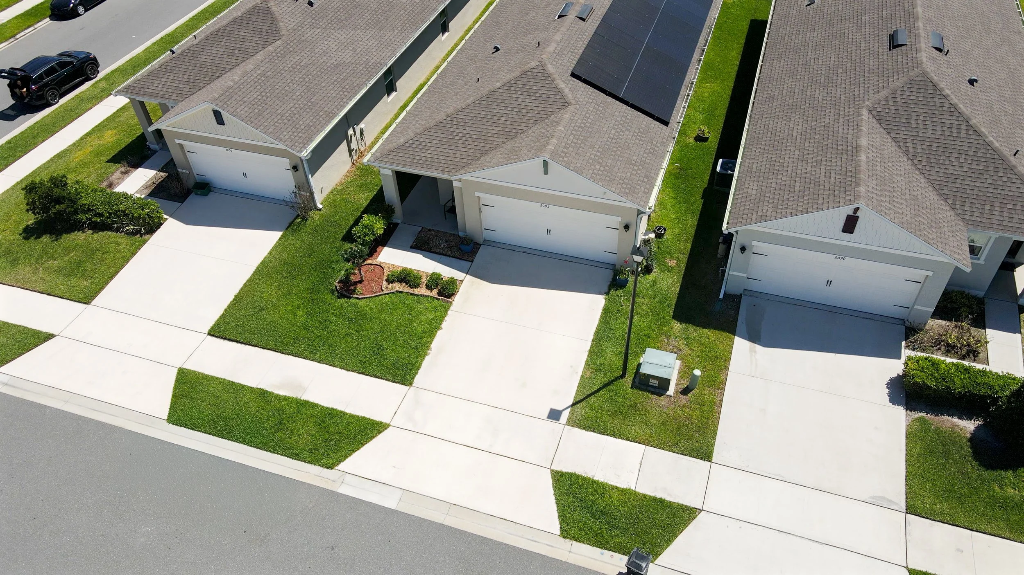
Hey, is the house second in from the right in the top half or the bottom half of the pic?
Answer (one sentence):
The house second in from the right is in the top half of the image.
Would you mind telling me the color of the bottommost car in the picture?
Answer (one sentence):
The bottommost car looks black in the image.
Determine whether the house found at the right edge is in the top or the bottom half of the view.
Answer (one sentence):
The top half of the photo is where the house found at the right edge is.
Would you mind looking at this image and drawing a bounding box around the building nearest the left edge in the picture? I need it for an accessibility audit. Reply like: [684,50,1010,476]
[111,0,475,216]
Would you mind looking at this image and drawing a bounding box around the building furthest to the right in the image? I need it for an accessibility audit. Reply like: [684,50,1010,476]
[718,0,1024,328]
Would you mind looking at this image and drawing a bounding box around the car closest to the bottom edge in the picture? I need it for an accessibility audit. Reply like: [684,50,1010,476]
[0,46,100,105]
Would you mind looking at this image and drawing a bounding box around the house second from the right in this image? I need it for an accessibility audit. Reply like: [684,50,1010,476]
[359,0,719,277]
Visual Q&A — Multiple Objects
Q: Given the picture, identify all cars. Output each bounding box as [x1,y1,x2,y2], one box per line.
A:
[45,0,97,15]
[0,46,100,105]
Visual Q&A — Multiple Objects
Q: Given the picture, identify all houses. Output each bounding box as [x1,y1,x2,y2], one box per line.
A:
[111,0,475,216]
[359,0,719,277]
[718,0,1024,328]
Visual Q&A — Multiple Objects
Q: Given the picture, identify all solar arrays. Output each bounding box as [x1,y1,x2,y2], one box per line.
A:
[573,0,715,131]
